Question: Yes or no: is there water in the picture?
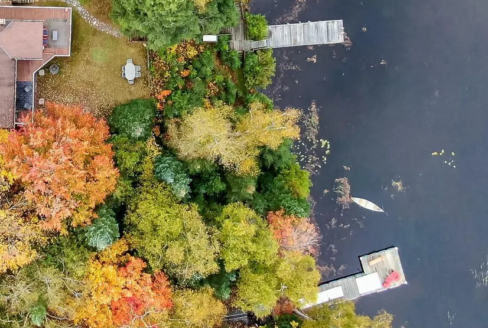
Yes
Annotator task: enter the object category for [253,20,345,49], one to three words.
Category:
pier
